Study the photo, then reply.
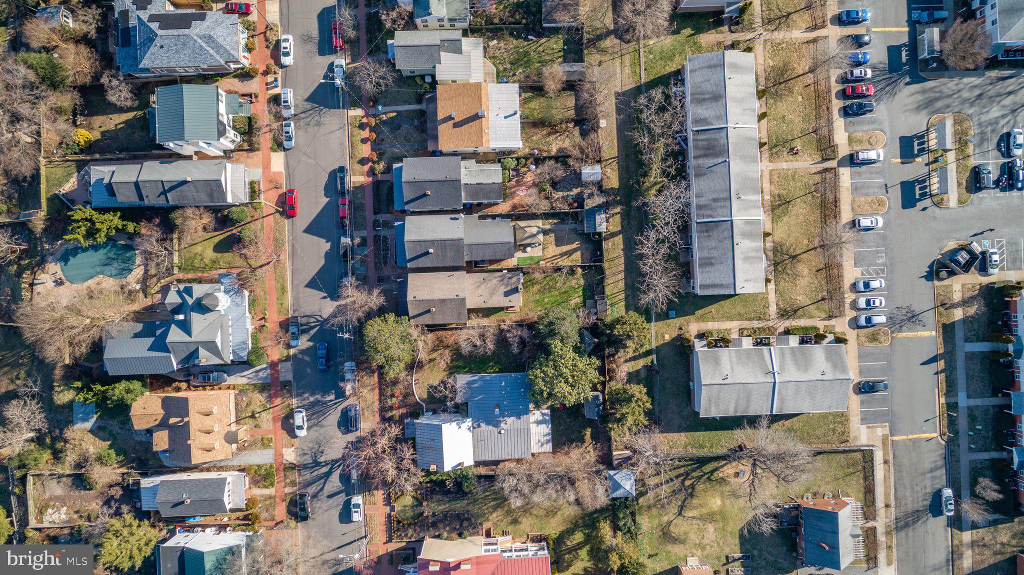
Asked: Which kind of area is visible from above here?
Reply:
residential area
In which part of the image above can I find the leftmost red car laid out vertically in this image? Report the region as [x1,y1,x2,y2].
[285,188,299,217]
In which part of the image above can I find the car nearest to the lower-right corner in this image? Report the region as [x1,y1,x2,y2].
[939,486,955,516]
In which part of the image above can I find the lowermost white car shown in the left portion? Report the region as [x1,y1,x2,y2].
[349,494,363,522]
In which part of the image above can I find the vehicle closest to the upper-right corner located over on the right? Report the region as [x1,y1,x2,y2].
[916,10,950,24]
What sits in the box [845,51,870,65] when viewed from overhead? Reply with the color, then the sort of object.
blue car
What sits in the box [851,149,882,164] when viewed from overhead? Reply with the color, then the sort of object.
white car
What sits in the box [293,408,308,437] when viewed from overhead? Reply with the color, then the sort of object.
white car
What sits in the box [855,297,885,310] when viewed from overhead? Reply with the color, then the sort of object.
white vehicle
